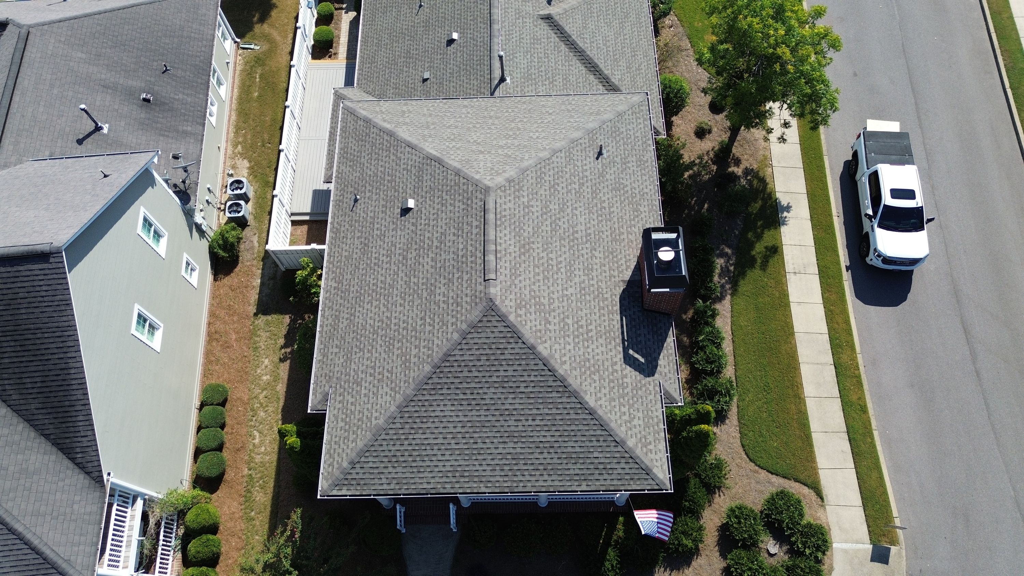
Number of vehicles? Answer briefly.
1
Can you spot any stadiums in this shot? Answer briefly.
No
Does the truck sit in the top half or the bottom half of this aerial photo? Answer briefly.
top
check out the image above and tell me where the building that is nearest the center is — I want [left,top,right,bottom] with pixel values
[308,0,690,535]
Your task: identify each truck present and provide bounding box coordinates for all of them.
[849,126,935,272]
